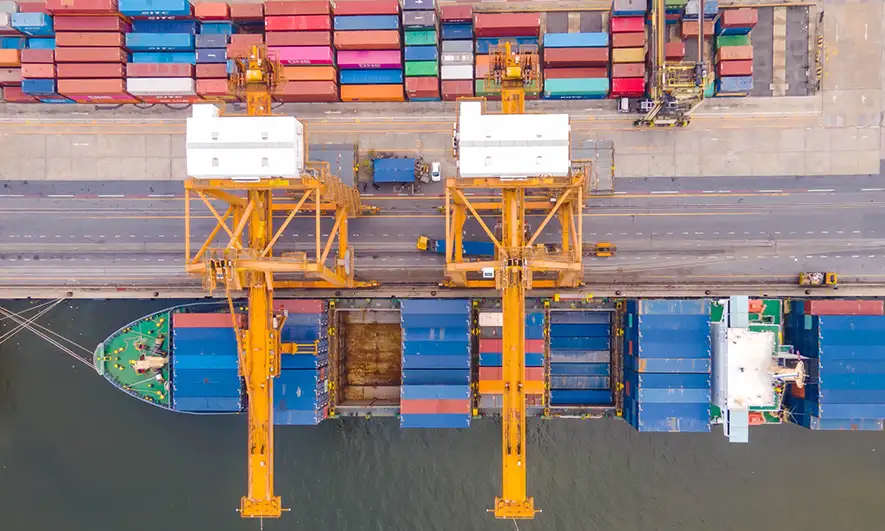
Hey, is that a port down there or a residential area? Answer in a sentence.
It's a port.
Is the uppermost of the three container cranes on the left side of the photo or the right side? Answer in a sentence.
It is on the right.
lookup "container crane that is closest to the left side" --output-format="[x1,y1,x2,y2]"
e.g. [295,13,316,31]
[181,38,380,530]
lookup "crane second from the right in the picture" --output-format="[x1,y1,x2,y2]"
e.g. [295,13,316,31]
[436,35,596,531]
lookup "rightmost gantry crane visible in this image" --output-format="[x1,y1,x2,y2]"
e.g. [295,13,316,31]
[636,0,710,126]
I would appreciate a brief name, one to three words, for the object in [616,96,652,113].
vehicle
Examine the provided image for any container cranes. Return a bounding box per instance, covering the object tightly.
[636,0,710,126]
[436,35,596,531]
[181,38,380,530]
